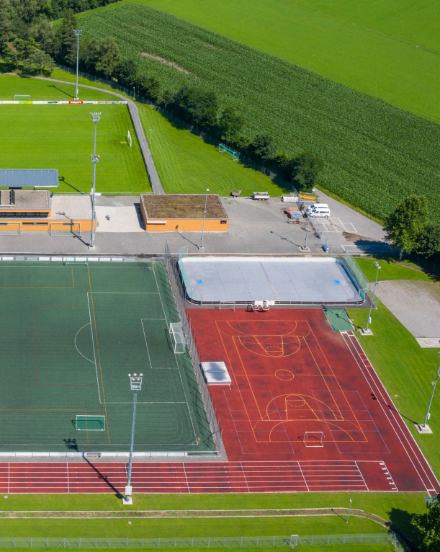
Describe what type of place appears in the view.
sports ground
